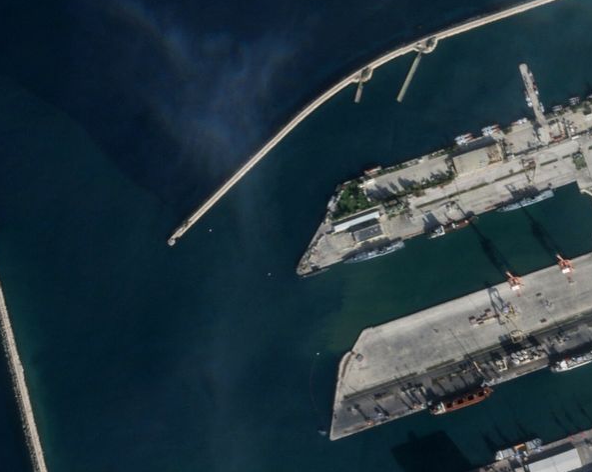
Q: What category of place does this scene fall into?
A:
port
